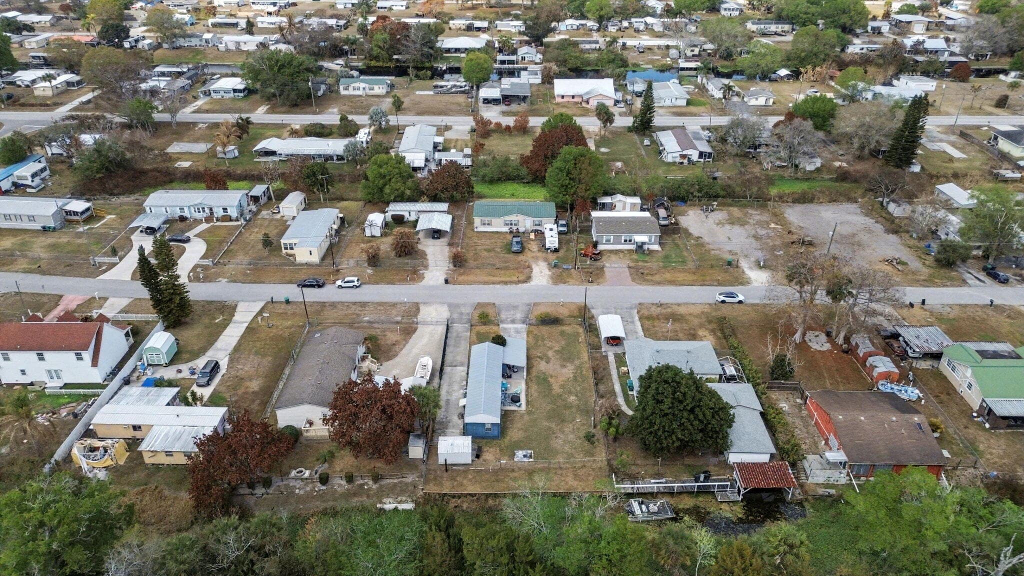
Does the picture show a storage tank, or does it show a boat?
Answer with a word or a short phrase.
boat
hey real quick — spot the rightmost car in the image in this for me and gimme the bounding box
[982,271,1014,286]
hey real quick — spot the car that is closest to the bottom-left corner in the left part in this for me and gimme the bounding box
[192,364,223,391]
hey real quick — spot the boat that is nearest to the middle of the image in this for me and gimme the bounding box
[412,355,432,377]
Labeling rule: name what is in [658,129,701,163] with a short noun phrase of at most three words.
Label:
house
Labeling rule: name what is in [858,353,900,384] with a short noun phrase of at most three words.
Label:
shed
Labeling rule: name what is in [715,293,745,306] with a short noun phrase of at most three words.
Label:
vehicle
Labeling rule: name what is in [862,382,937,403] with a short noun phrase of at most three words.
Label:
boat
